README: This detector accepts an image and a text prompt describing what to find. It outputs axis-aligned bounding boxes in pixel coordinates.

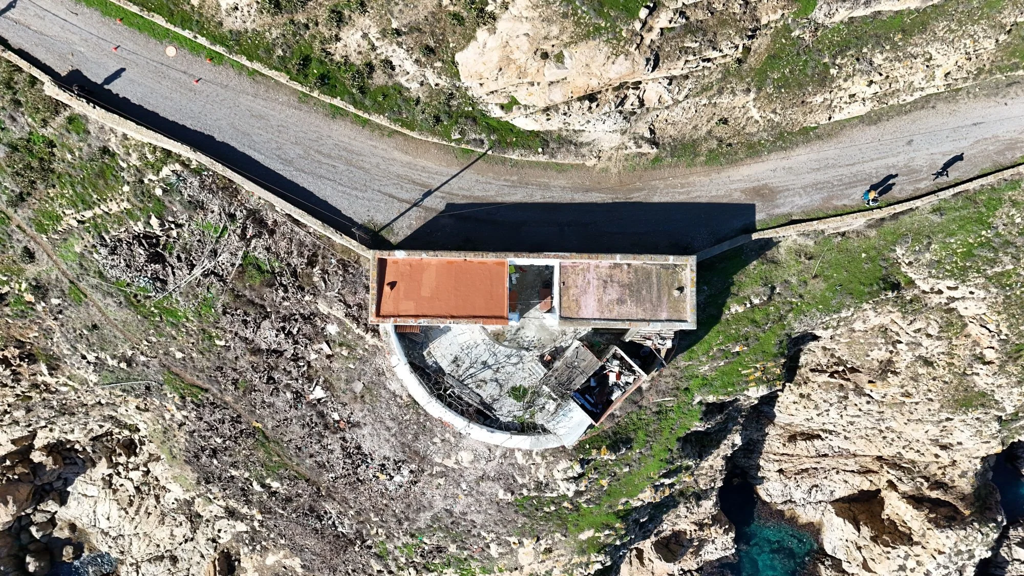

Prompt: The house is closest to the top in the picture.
[370,250,696,328]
